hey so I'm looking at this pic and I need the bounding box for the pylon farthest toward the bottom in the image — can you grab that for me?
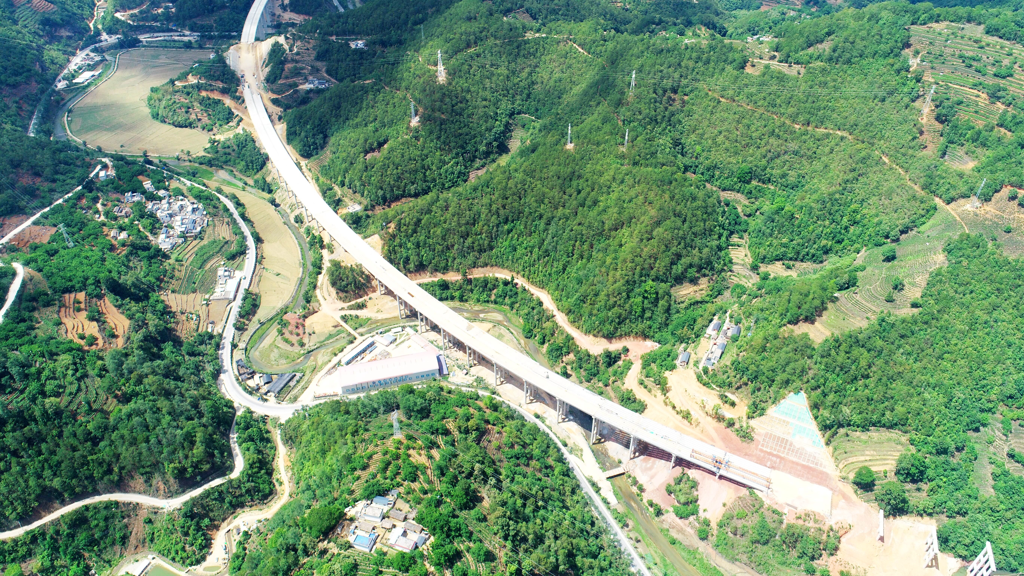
[390,408,402,436]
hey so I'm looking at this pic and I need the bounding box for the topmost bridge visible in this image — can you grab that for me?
[245,0,279,47]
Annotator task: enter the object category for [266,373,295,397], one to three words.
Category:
greenhouse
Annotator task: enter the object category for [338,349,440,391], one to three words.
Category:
building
